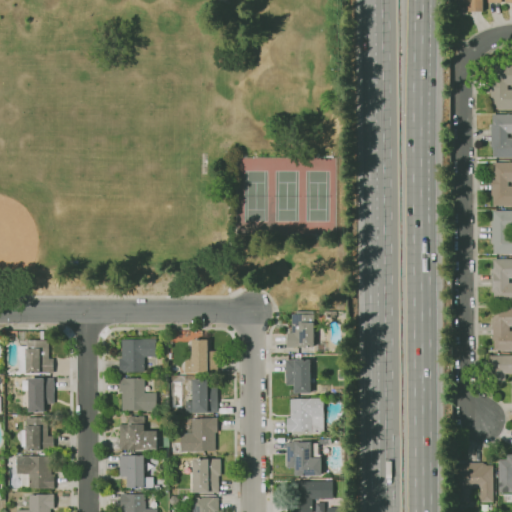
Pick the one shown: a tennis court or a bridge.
tennis court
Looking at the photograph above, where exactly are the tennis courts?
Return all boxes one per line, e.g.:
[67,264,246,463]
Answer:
[242,158,273,238]
[303,158,337,238]
[273,158,303,238]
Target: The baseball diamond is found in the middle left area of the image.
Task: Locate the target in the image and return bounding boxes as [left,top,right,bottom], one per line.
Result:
[0,194,40,273]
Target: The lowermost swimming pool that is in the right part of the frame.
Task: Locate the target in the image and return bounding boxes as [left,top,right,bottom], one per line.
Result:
[328,446,342,470]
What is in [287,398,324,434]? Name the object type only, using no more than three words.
house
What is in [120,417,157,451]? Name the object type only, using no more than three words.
house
